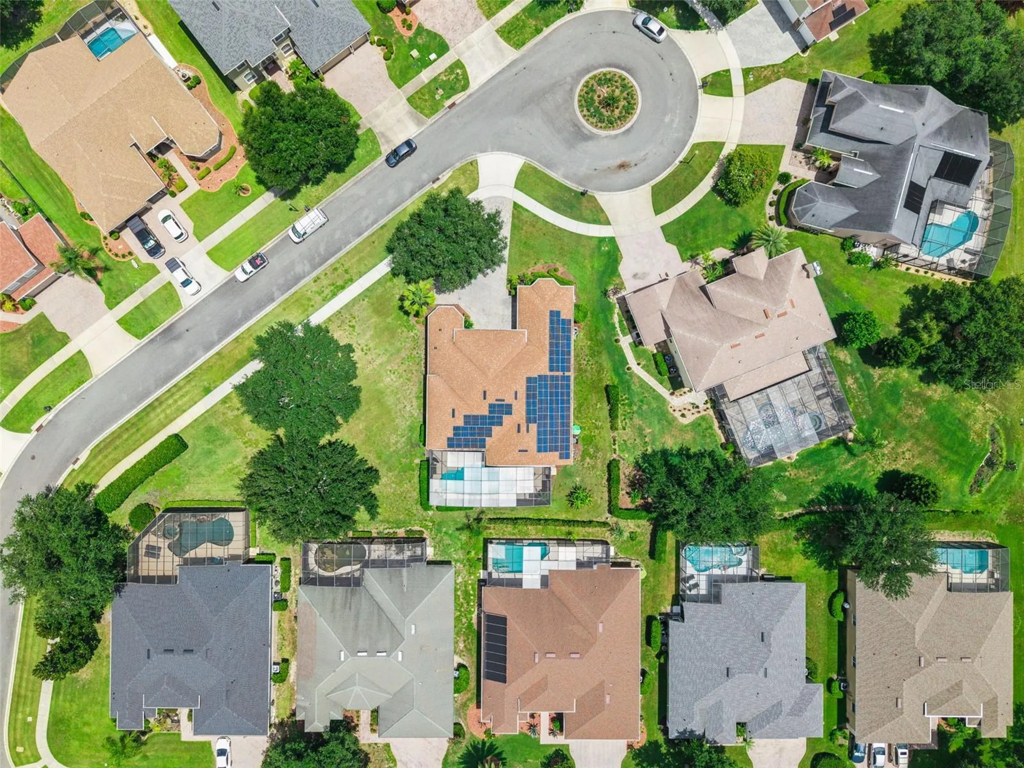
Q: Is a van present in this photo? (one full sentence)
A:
Yes, you can see a van in this photo.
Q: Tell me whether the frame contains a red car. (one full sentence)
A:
No, the picture doesn't show any red car.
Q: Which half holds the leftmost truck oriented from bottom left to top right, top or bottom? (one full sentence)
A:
The leftmost truck oriented from bottom left to top right sits in the top half of the picture.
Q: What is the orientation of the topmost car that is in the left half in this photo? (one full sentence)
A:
In this picture, the topmost car that is in the left half is oriented diagonally.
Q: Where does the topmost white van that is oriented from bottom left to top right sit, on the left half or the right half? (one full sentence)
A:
The topmost white van that is oriented from bottom left to top right is on the left side of the image.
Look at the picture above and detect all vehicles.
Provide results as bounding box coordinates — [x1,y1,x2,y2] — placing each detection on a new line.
[233,251,272,284]
[384,137,420,169]
[631,12,668,45]
[127,215,166,259]
[214,736,233,768]
[164,256,202,297]
[288,206,330,243]
[158,208,190,245]
[848,730,868,763]
[869,744,889,768]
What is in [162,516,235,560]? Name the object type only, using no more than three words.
swimming pool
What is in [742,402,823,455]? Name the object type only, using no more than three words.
swimming pool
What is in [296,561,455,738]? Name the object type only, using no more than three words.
building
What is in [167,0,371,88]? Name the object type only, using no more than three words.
house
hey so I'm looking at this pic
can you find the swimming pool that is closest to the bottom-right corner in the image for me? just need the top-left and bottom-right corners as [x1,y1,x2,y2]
[933,549,990,575]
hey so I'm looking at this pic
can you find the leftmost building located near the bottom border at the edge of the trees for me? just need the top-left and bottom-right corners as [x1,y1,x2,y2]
[110,563,275,736]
